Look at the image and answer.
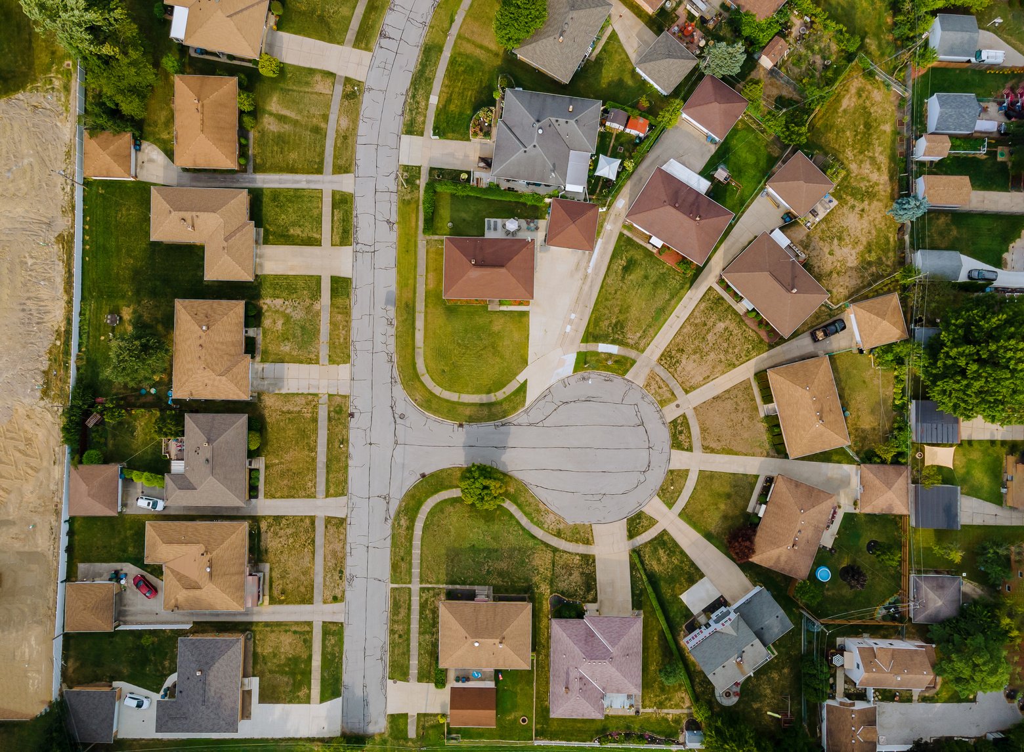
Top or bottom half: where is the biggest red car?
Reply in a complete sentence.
The biggest red car sits in the bottom half of the picture.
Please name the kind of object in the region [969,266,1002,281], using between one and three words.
car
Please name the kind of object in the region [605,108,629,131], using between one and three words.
shed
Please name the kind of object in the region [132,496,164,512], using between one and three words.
car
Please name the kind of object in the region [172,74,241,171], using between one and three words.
house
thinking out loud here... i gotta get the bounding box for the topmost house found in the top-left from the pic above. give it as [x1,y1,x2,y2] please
[162,0,273,62]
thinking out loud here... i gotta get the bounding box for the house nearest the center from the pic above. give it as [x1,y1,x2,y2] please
[443,237,535,301]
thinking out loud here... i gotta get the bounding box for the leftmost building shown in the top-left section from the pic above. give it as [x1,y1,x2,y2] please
[83,130,137,179]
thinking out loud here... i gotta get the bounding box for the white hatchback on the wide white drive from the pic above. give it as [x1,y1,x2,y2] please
[120,694,150,712]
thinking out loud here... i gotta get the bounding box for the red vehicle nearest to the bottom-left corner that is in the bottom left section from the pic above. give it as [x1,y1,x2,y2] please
[130,573,157,602]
